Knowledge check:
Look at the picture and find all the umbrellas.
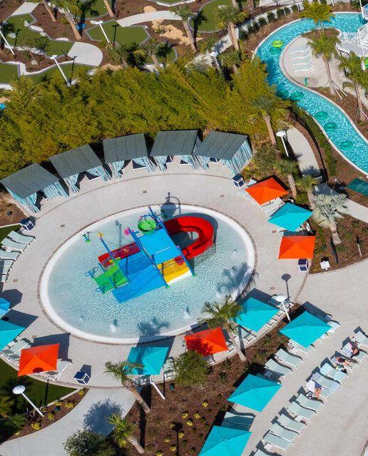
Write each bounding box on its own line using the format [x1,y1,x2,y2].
[245,177,288,211]
[184,326,227,362]
[230,297,278,333]
[268,203,312,233]
[280,236,317,260]
[0,318,28,355]
[123,347,170,380]
[16,342,60,379]
[227,373,282,414]
[281,311,332,350]
[200,425,252,456]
